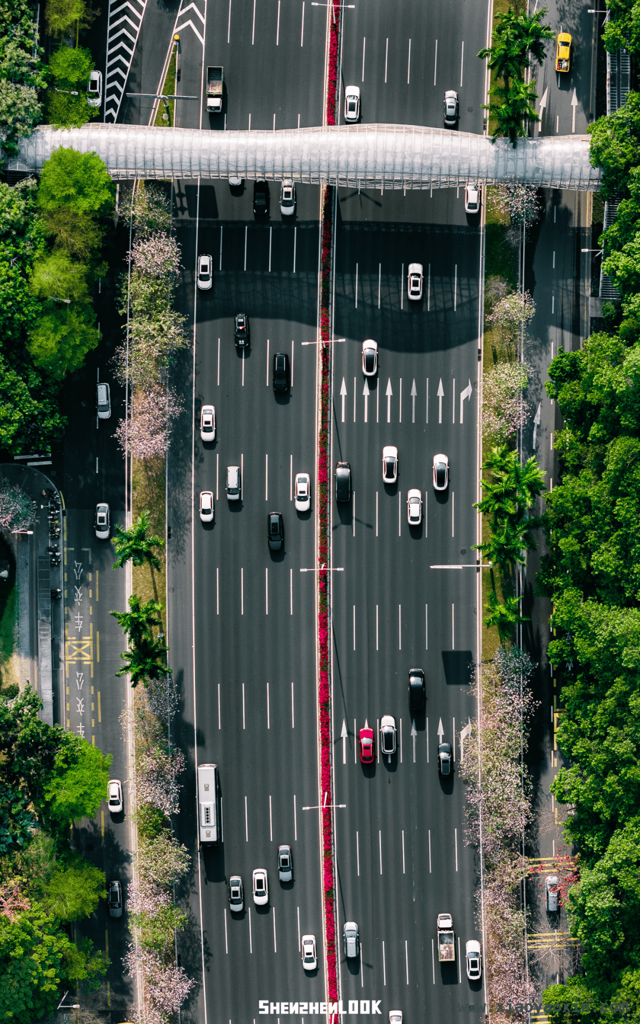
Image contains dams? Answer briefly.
No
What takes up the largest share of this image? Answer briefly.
paved ground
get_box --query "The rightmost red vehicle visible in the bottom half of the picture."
[359,727,375,764]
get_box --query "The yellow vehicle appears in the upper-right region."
[555,33,573,74]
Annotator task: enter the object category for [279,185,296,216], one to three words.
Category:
car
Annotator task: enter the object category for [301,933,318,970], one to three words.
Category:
car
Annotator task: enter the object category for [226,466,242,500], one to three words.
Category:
vehicle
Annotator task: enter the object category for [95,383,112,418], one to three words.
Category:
vehicle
